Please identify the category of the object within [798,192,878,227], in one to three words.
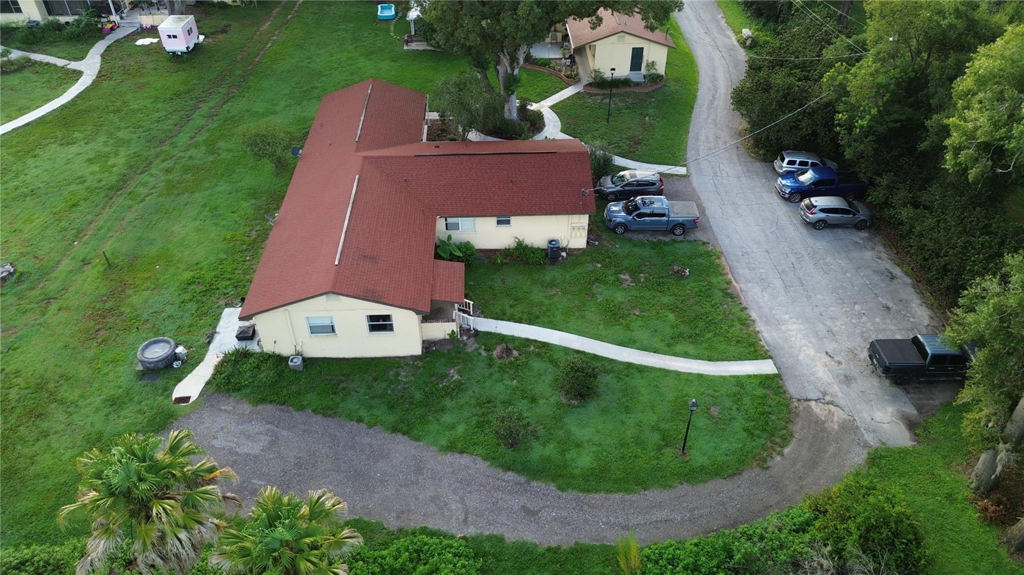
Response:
car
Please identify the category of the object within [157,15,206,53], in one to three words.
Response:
camper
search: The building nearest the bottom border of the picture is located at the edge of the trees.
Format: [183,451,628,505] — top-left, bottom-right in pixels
[239,79,595,353]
